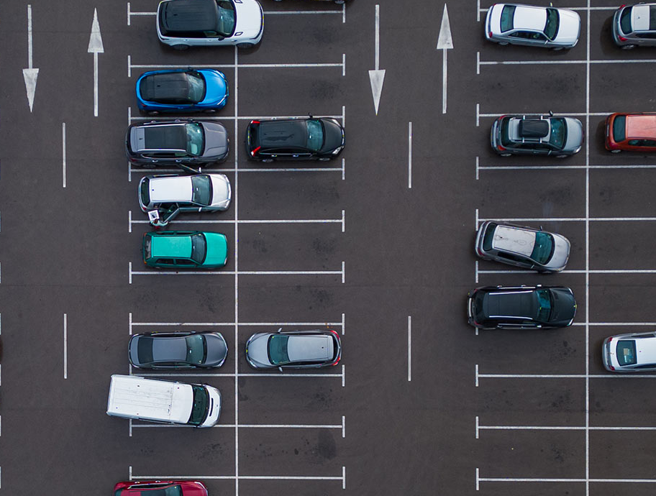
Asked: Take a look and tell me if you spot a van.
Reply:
Yes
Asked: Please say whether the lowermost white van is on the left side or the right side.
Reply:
left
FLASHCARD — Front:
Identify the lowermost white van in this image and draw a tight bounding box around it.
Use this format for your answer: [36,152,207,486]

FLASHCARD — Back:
[108,372,221,431]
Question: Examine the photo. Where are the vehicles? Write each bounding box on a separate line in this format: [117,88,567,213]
[465,282,580,333]
[244,326,342,373]
[609,2,656,52]
[128,326,227,374]
[488,110,585,159]
[482,0,581,51]
[114,476,208,496]
[139,161,232,221]
[600,112,656,154]
[143,226,229,271]
[598,331,656,375]
[156,0,265,52]
[472,219,572,271]
[108,372,221,431]
[126,117,230,168]
[135,66,230,117]
[245,115,347,165]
